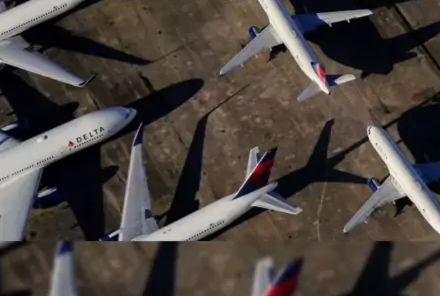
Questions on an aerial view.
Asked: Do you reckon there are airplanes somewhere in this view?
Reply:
Yes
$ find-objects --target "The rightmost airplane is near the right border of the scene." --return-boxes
[345,127,440,256]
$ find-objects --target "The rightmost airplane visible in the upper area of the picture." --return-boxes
[221,0,372,100]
